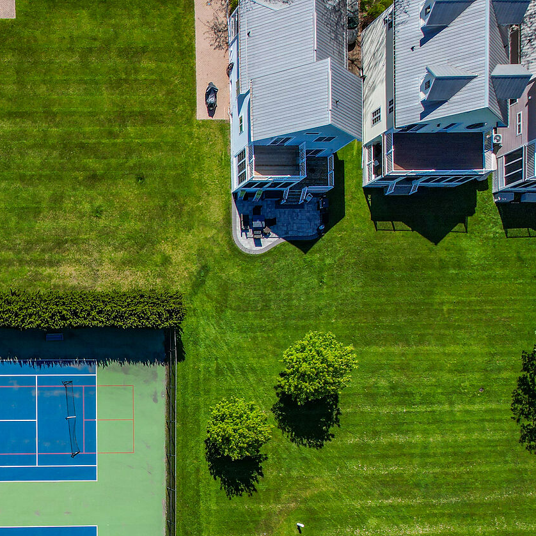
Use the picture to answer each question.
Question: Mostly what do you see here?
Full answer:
Most of the picture is covered by grass.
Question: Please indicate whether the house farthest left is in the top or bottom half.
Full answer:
The house farthest left is in the top half of the image.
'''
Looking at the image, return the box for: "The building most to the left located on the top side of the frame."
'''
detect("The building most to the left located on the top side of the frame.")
[221,0,362,206]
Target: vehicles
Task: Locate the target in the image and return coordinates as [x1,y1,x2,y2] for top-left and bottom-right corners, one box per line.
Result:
[345,0,363,47]
[209,82,224,108]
